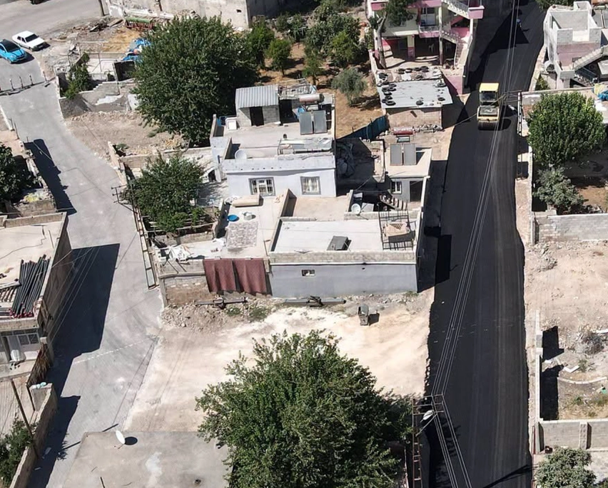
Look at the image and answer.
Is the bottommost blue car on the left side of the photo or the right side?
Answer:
left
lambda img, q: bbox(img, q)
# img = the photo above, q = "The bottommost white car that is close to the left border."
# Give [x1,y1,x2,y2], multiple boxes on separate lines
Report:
[10,29,45,51]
